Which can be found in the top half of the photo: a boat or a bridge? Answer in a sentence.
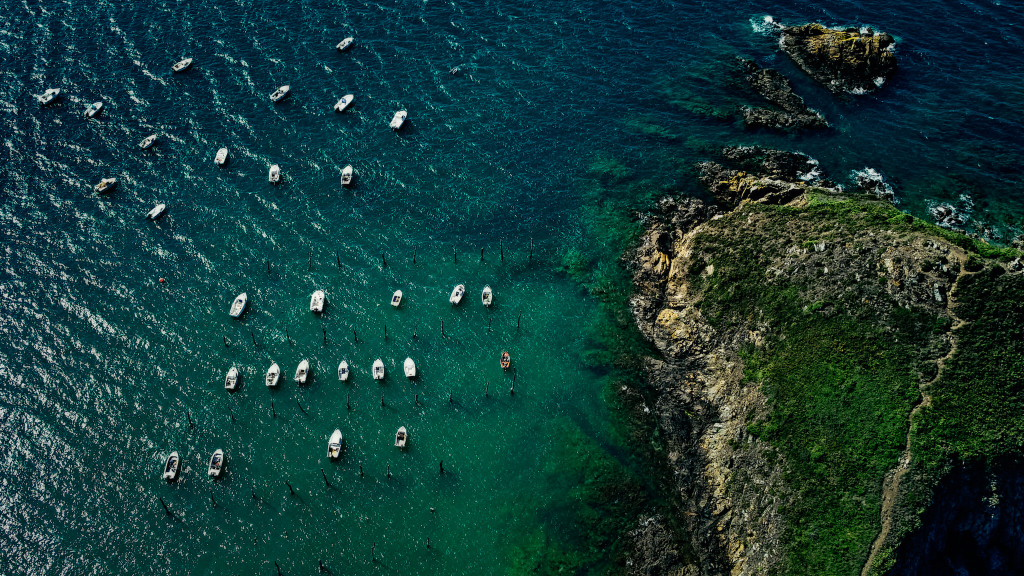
What appears in the top half of the photo is a boat.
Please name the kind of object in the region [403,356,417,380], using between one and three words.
boat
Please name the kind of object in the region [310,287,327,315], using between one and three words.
boat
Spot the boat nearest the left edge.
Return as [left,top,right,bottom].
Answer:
[38,88,60,105]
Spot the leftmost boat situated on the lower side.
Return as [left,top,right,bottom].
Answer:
[162,451,180,483]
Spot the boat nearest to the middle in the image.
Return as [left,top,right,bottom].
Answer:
[481,282,493,307]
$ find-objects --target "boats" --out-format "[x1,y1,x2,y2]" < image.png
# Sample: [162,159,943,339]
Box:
[403,356,417,380]
[208,448,225,480]
[394,425,408,451]
[325,426,343,461]
[372,355,385,383]
[264,360,280,389]
[84,102,103,118]
[171,56,192,72]
[340,164,354,187]
[95,177,116,194]
[337,359,350,384]
[449,66,459,75]
[147,204,165,219]
[389,109,408,130]
[229,291,247,319]
[224,363,238,392]
[38,88,60,105]
[500,352,510,370]
[310,287,327,315]
[481,282,493,307]
[214,147,229,166]
[294,357,310,386]
[270,84,289,102]
[334,94,354,113]
[389,289,403,308]
[336,37,353,51]
[449,282,465,308]
[268,164,280,185]
[162,451,180,483]
[138,133,156,150]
